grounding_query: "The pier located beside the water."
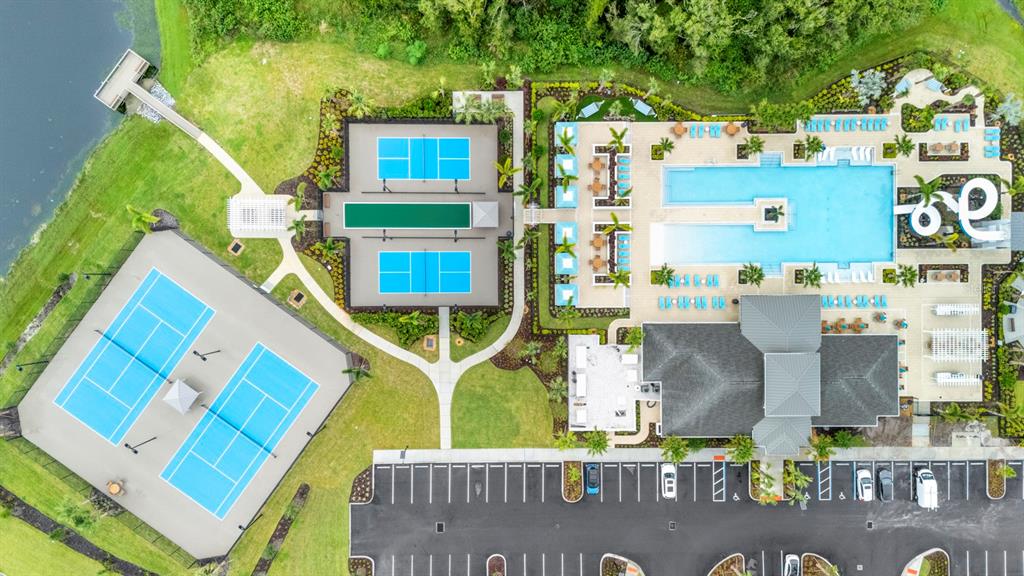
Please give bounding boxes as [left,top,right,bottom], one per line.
[94,49,204,142]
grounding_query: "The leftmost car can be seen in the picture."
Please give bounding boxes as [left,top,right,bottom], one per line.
[586,463,601,494]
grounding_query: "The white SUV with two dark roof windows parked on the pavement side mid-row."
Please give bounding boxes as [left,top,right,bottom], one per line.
[660,463,677,498]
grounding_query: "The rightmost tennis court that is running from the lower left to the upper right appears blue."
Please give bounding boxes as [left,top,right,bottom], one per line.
[160,343,320,520]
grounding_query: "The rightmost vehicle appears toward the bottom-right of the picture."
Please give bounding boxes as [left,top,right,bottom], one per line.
[914,468,939,513]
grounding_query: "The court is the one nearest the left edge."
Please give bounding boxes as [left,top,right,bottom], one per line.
[53,267,215,446]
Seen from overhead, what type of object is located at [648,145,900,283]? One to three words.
swimming pool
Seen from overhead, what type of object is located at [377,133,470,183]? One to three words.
sports court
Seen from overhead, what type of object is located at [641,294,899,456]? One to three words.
building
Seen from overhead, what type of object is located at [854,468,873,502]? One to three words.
car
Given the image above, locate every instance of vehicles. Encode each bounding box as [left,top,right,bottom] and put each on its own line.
[875,468,893,502]
[586,463,601,494]
[660,463,677,498]
[854,468,873,502]
[783,554,800,576]
[914,468,939,513]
